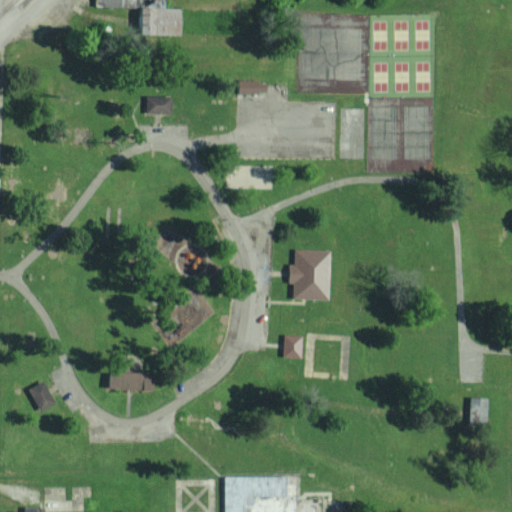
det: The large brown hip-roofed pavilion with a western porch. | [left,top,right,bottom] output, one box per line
[288,250,332,302]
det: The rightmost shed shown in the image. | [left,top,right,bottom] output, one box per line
[470,398,490,424]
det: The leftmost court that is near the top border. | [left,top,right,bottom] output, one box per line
[297,14,369,94]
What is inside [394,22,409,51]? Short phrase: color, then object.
white sports court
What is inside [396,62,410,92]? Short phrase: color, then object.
white sports court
